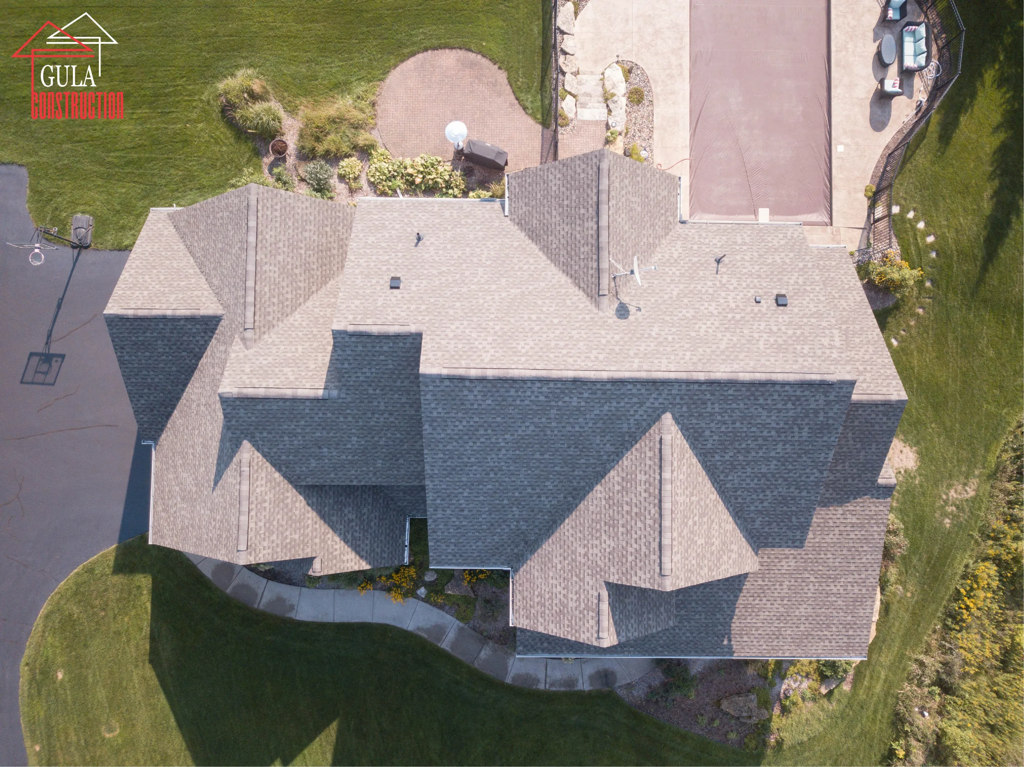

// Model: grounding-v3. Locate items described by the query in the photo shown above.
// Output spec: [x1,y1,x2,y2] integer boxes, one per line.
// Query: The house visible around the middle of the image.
[103,148,908,661]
